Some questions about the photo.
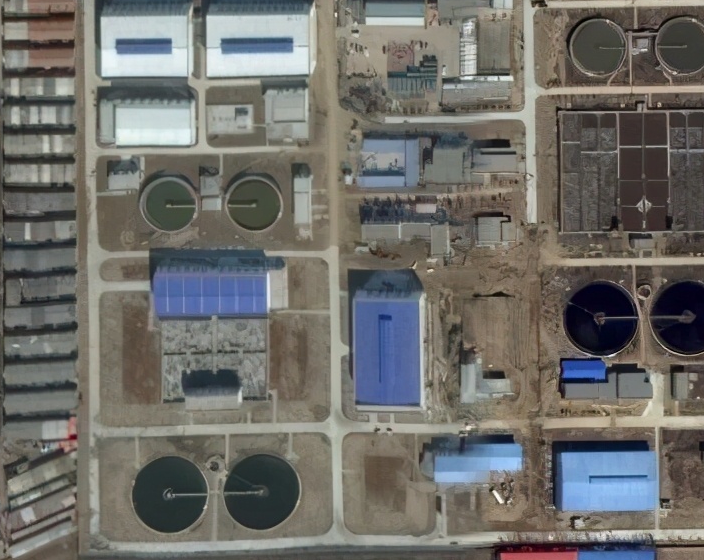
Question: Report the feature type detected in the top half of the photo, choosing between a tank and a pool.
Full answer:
Visible in the top half of the photo is a tank.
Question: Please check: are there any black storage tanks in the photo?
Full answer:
Yes, I can see a black storage tank in this picture.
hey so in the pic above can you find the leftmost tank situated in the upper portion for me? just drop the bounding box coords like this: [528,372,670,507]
[139,175,198,232]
